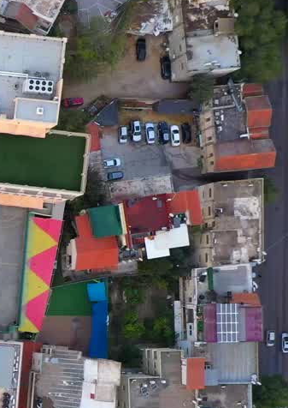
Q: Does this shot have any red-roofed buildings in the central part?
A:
Yes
